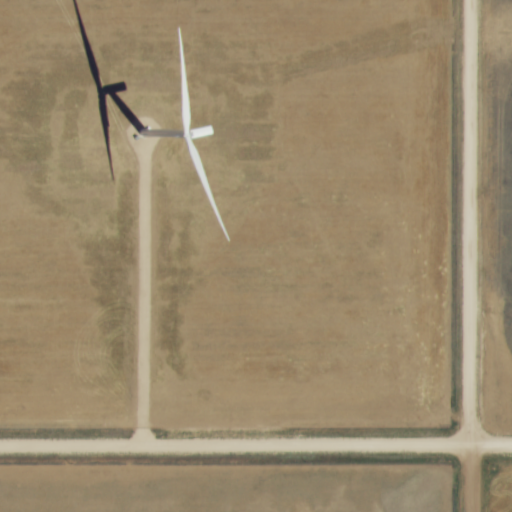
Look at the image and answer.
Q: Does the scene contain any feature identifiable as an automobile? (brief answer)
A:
No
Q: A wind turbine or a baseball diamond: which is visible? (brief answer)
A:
wind turbine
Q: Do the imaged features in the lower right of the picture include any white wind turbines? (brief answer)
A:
No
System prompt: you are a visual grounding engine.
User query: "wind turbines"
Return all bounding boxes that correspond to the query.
[136,26,228,240]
